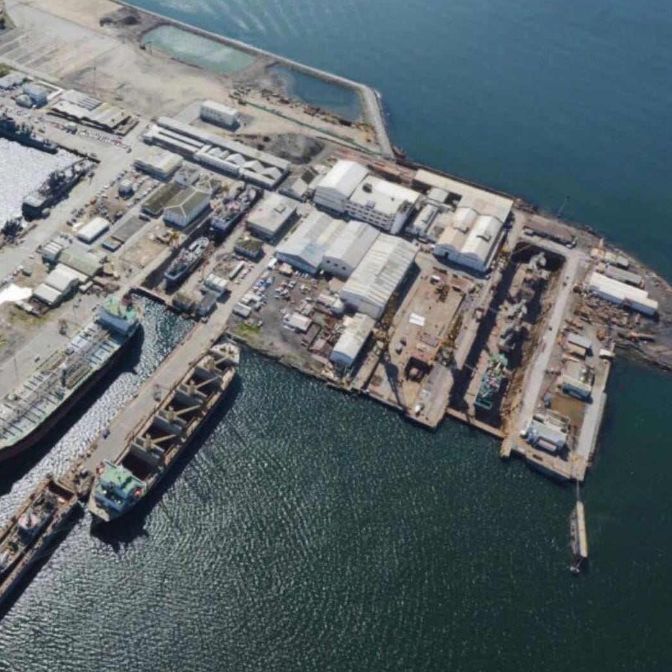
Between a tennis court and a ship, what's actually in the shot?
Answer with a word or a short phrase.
ship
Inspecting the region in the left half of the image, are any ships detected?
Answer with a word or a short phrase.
Yes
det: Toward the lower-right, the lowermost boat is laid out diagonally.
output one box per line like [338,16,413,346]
[566,556,581,572]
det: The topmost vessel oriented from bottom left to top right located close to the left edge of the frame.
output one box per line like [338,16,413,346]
[19,157,96,220]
